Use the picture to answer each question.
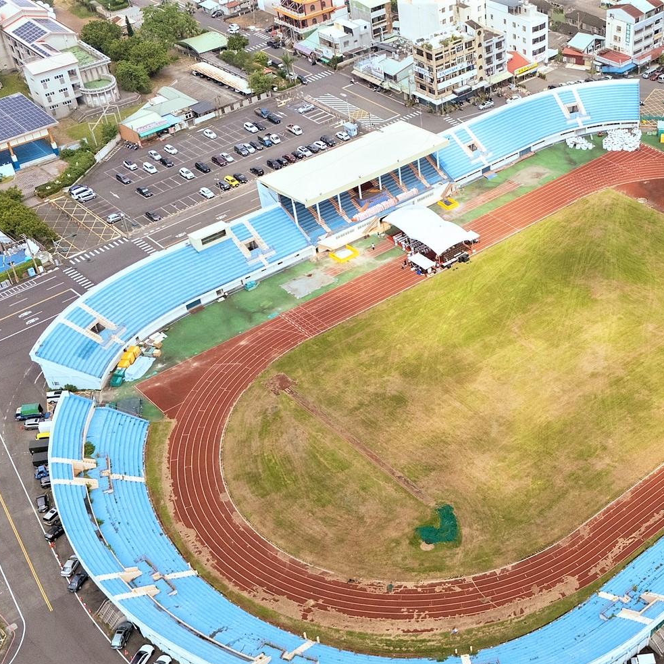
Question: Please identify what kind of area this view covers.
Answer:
sports ground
